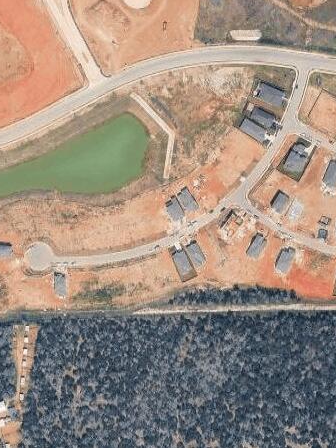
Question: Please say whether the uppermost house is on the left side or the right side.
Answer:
right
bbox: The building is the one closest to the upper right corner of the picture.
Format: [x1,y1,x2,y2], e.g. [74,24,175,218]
[256,83,286,105]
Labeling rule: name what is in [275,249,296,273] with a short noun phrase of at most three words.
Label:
house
